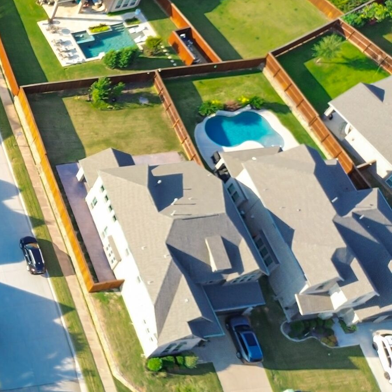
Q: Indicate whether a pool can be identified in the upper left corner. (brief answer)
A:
Yes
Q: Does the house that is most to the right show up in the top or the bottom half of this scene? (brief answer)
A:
top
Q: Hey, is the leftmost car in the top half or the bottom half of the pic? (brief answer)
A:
bottom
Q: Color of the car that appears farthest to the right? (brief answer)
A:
white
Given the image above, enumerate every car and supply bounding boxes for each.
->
[364,332,392,379]
[19,237,48,278]
[227,317,266,363]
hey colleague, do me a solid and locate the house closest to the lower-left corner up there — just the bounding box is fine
[75,149,270,362]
